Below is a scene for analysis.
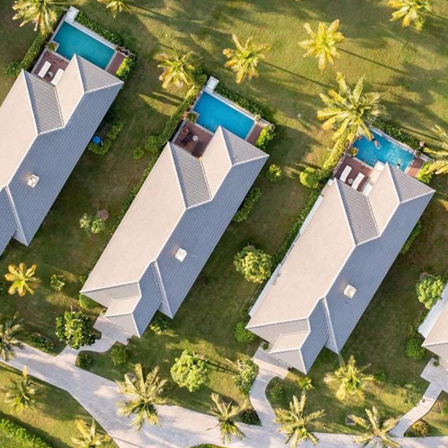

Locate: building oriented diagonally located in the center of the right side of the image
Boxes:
[245,160,436,373]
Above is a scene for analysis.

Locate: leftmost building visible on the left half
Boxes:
[0,52,124,257]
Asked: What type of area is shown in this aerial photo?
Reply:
residential area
